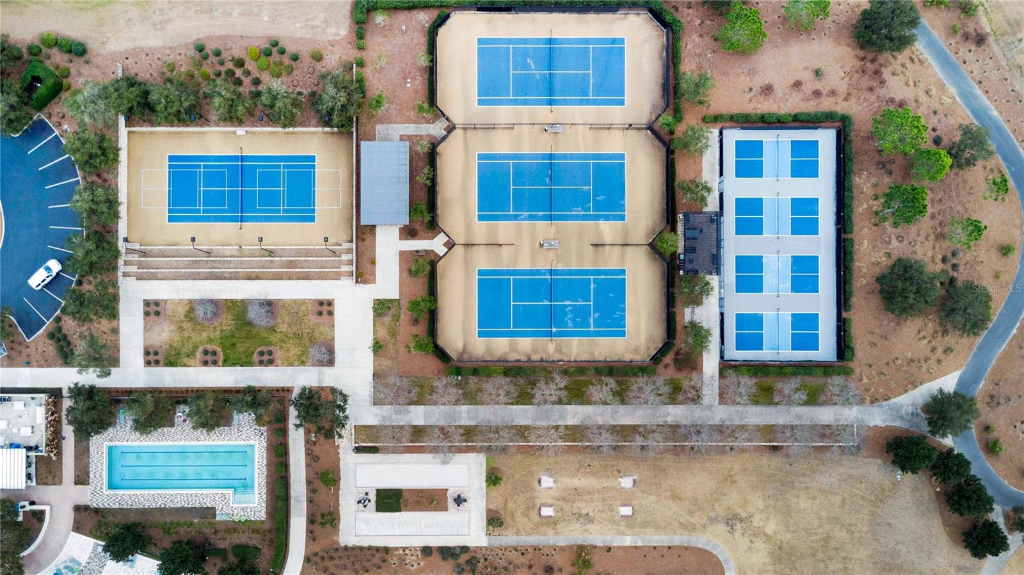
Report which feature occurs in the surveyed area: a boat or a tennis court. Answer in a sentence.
The image shows a tennis court.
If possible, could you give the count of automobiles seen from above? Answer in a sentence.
Just 1 automobile appears in this view.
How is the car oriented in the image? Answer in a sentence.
In this picture, the car is oriented diagonally.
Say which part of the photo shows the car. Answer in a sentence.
The car sits in the left section of the image.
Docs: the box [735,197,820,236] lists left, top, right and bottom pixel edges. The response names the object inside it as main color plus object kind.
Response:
blue sports court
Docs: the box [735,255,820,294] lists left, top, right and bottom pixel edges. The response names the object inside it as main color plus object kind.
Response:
blue sports court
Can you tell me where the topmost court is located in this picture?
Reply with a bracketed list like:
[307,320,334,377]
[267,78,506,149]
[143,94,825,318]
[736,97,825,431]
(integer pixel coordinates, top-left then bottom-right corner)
[437,13,667,126]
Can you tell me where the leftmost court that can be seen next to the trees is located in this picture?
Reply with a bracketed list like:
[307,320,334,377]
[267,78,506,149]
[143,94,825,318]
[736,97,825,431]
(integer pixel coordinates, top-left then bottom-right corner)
[132,133,353,246]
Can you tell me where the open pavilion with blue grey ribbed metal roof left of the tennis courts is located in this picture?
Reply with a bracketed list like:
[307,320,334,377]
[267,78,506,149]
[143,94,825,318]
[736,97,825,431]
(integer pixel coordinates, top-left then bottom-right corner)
[361,140,409,226]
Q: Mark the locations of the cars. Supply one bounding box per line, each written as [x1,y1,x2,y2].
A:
[27,260,60,290]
